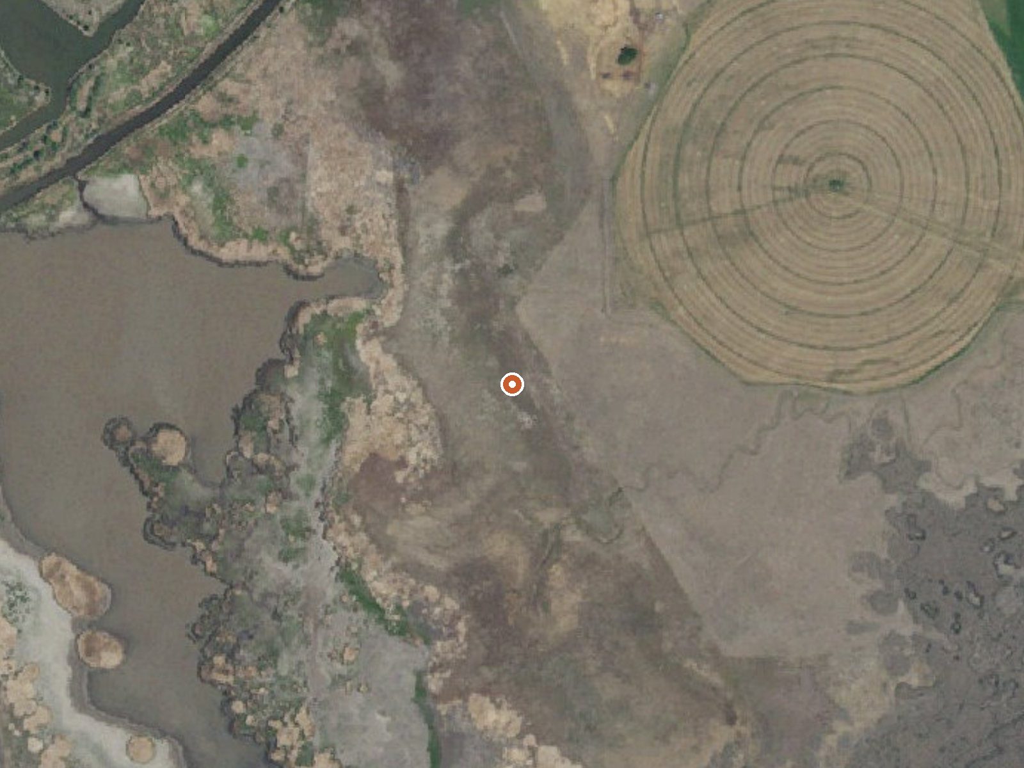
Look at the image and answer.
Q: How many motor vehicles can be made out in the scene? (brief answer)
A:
none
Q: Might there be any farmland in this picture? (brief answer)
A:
Yes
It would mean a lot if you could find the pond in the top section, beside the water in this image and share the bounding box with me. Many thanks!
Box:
[0,0,145,152]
